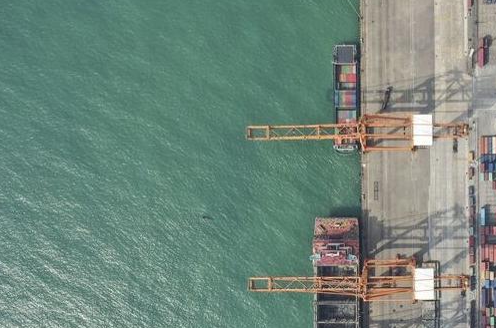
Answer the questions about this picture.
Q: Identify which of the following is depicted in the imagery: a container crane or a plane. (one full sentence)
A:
The image shows a container crane.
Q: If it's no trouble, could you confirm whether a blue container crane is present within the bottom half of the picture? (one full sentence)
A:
No, the scene shows no blue container crane within the bottom half of the picture.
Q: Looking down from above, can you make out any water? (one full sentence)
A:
Yes, water shows up in the scene.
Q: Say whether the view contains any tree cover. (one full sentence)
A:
No, no tree cover is visible.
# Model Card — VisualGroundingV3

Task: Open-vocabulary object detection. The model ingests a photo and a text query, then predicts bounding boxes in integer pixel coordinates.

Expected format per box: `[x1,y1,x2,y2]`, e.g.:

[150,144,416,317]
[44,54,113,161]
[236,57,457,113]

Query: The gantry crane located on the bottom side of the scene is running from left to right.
[248,252,469,303]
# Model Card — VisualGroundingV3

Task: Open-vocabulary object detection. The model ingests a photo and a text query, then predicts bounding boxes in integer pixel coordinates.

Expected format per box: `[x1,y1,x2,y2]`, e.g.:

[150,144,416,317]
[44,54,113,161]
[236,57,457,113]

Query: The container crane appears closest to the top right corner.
[247,112,468,156]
